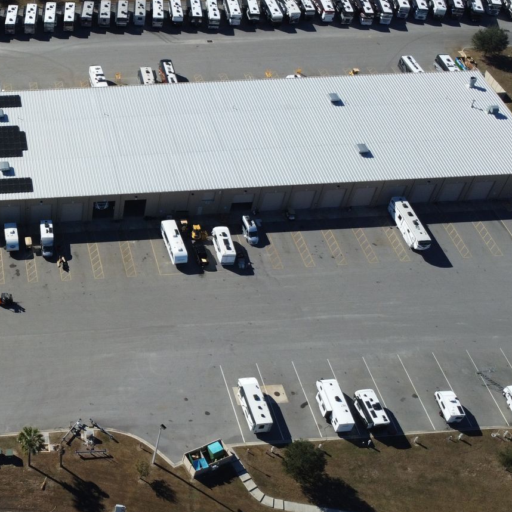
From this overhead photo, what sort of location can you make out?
parking lot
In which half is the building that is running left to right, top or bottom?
top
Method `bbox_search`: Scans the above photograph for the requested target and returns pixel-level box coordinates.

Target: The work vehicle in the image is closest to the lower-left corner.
[0,291,19,305]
